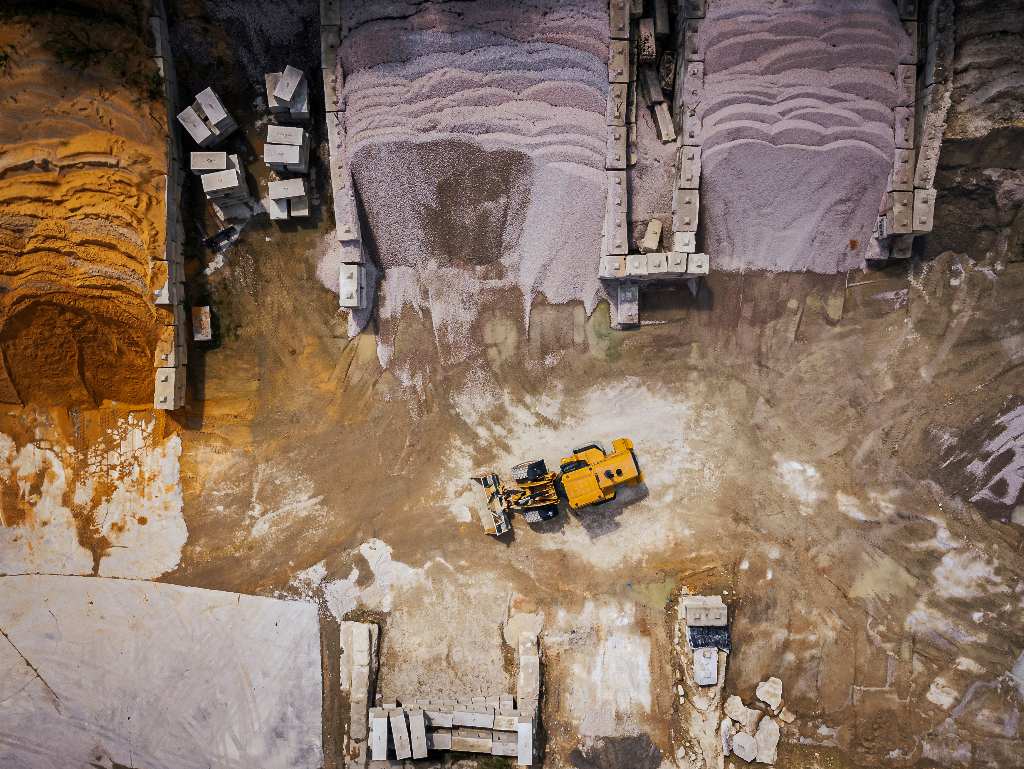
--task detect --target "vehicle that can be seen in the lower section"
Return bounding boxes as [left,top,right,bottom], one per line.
[468,436,645,532]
